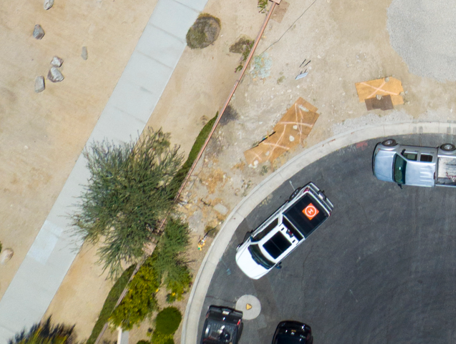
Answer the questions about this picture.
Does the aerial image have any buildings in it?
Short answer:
No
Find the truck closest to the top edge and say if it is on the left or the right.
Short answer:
right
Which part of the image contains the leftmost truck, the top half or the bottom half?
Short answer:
bottom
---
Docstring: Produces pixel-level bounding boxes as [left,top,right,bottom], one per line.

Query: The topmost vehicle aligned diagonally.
[243,179,337,272]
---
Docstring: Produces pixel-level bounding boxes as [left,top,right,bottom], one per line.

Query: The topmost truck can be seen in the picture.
[370,138,456,191]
